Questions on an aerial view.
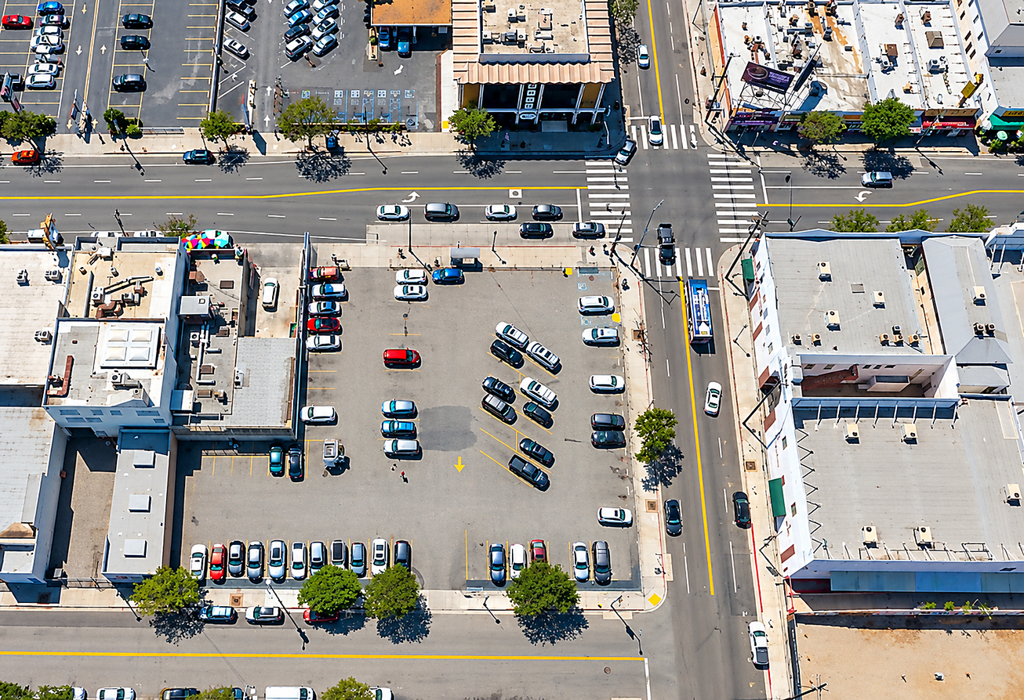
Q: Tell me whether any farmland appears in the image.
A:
No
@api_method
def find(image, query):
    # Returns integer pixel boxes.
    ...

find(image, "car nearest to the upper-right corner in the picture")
[860,172,893,187]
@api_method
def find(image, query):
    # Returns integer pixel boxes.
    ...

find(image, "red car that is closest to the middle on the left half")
[382,350,421,367]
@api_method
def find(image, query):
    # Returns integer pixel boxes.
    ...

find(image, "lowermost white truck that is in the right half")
[744,620,774,672]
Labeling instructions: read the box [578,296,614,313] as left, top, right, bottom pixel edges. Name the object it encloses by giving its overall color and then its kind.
white car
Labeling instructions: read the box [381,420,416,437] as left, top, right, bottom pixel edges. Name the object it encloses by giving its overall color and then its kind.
blue car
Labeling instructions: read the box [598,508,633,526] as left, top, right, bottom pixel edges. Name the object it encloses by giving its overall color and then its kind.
white car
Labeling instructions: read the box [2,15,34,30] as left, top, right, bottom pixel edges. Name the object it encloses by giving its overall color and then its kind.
red car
